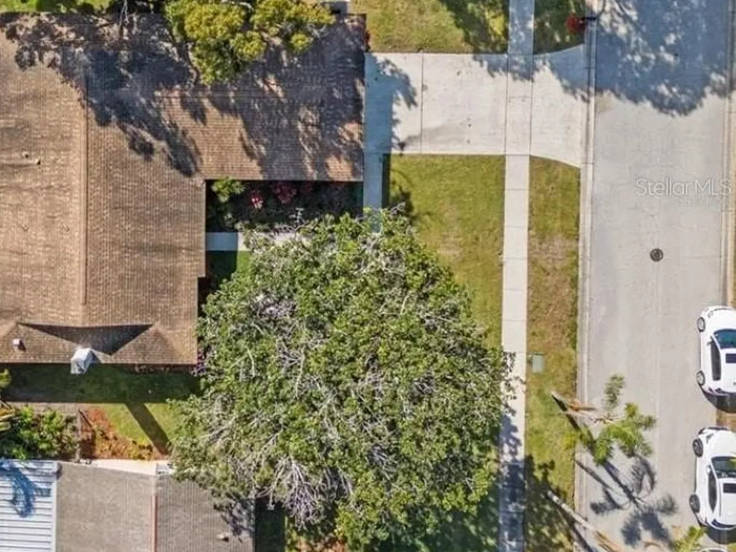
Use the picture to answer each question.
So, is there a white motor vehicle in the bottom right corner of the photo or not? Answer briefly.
Yes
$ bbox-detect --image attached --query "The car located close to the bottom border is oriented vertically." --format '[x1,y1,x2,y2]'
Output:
[690,425,736,526]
